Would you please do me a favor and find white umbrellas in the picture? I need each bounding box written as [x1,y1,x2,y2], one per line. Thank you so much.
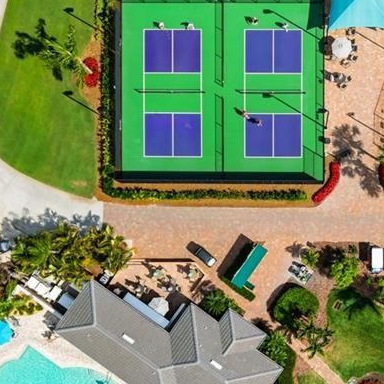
[148,294,172,317]
[330,37,353,59]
